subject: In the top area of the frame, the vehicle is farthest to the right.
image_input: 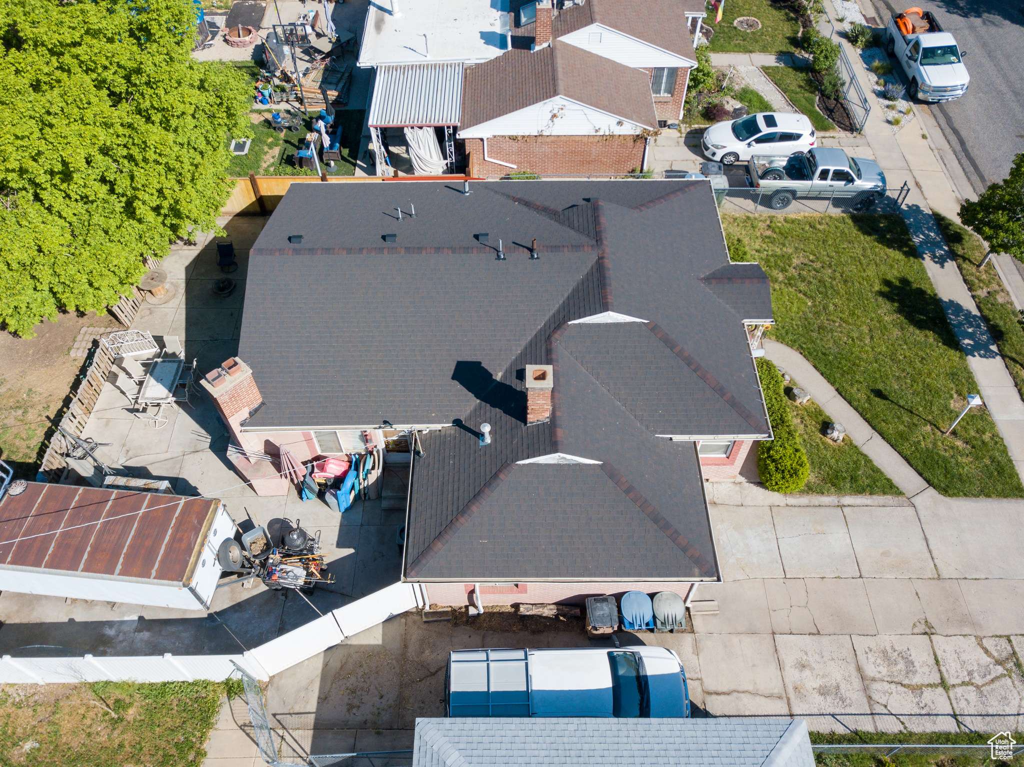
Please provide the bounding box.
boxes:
[880,13,969,101]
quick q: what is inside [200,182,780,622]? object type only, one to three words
house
